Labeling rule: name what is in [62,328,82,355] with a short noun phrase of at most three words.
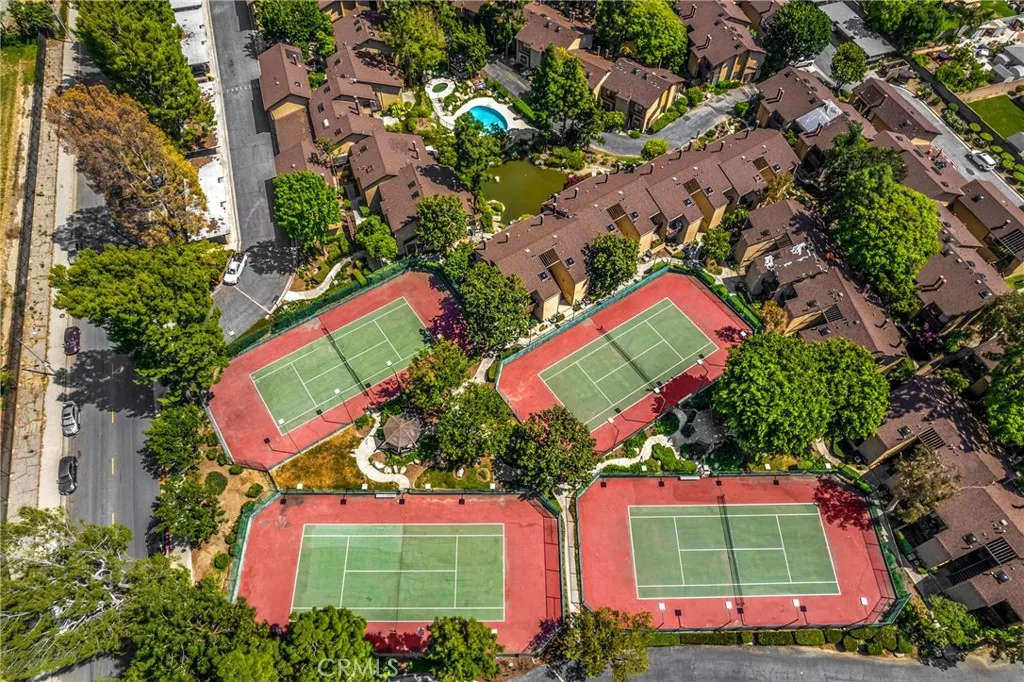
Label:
car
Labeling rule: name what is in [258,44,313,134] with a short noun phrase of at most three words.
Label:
house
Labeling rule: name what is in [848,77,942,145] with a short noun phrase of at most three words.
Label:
house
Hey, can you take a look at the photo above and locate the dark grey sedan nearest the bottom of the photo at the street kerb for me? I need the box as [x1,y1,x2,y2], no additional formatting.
[56,456,79,495]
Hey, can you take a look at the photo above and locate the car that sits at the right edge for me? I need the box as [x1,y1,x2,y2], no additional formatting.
[970,149,1000,169]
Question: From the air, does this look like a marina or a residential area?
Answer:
residential area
